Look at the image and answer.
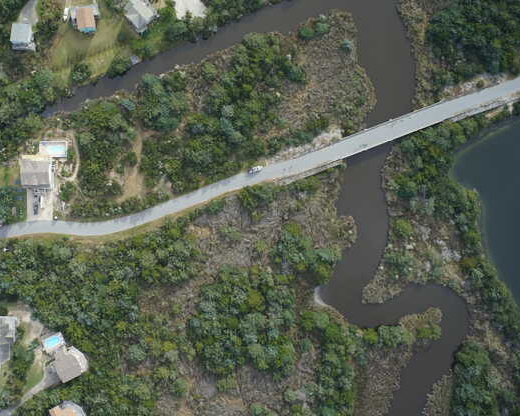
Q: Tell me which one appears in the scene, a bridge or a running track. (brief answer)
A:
bridge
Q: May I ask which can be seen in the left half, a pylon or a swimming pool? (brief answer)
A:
swimming pool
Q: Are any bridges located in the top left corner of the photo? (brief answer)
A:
No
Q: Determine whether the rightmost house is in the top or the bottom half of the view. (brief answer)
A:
top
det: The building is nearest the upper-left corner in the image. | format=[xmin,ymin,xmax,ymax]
[11,24,35,51]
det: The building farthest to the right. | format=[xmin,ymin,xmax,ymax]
[123,0,158,33]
